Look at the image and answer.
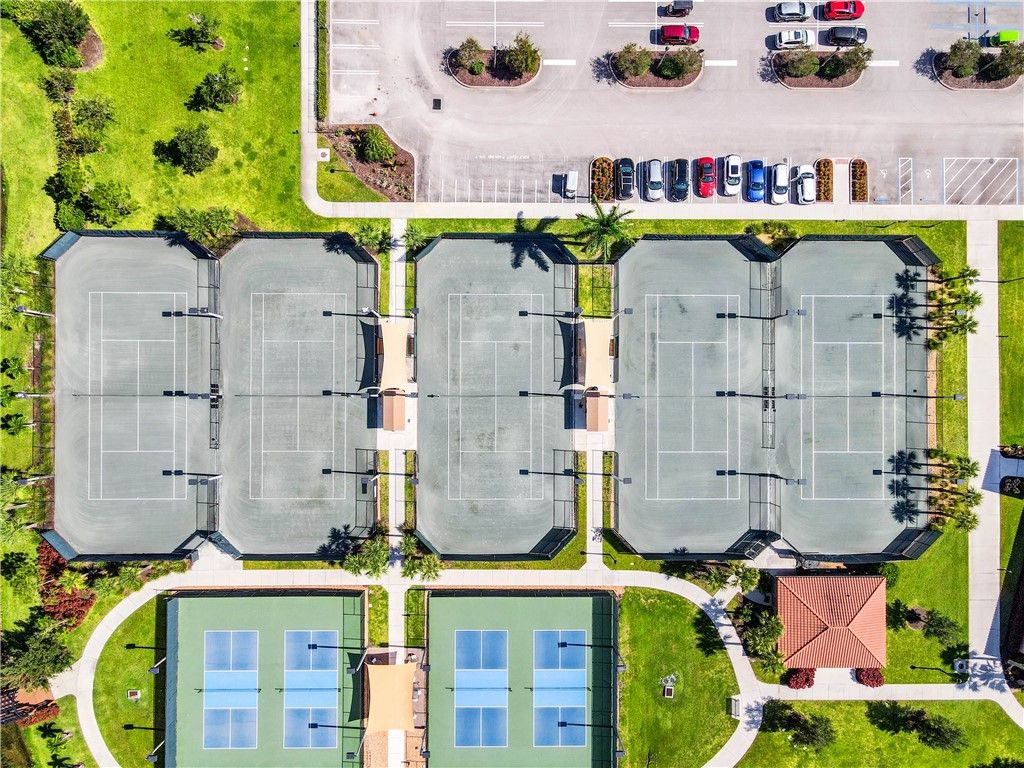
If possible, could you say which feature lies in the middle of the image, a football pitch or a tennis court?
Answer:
tennis court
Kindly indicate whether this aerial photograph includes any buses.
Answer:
No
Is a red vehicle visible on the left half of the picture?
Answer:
No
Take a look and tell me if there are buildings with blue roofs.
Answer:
No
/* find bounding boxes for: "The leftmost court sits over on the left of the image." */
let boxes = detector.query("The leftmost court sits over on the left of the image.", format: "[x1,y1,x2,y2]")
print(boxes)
[54,237,219,554]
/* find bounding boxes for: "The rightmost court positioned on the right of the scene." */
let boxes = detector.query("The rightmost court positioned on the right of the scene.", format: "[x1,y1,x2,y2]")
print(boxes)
[770,241,927,554]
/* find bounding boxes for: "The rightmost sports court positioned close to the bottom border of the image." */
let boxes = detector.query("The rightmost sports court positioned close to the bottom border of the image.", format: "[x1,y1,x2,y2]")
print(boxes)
[521,597,612,768]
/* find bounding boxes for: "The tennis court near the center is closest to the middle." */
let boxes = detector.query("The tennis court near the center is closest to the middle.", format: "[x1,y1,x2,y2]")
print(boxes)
[416,239,577,554]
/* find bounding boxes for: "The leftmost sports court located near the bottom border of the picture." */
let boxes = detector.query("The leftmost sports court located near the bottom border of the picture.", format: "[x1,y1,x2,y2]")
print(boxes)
[178,597,272,768]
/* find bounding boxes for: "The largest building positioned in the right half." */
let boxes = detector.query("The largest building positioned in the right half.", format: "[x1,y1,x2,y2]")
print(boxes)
[773,574,887,669]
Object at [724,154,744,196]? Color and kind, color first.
white car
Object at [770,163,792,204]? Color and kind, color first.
white car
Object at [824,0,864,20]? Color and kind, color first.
red car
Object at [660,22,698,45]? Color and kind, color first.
red car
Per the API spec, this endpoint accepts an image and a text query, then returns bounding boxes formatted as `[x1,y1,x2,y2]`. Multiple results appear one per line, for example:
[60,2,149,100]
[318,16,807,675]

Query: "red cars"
[824,0,864,20]
[660,22,698,45]
[698,157,718,196]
